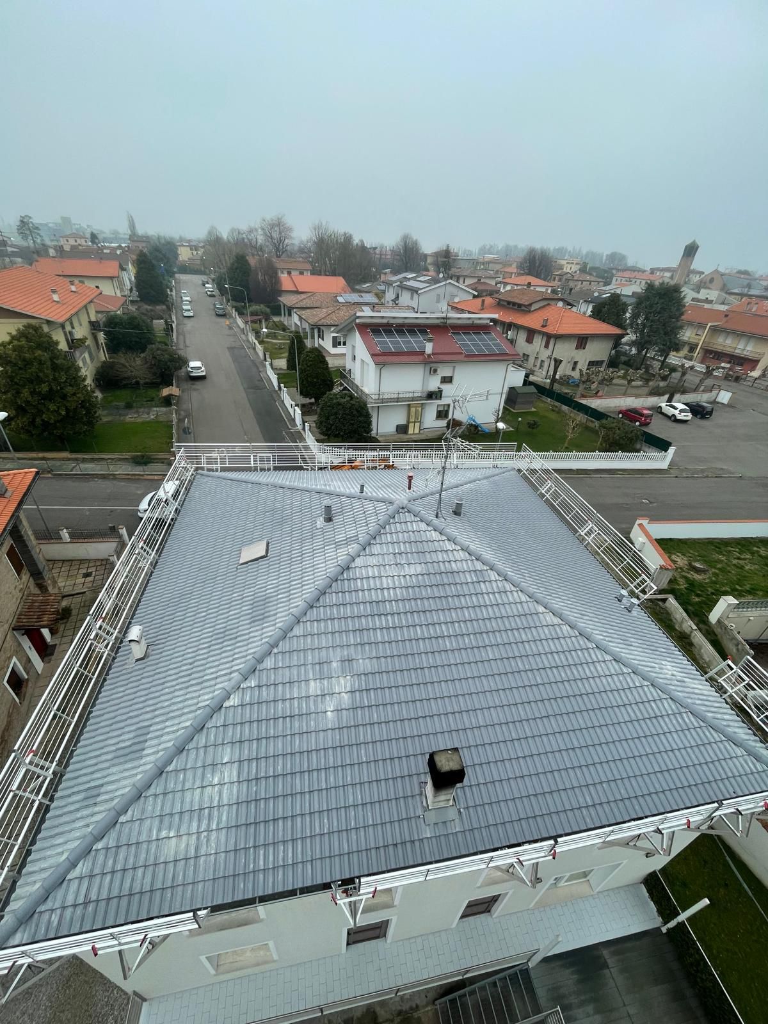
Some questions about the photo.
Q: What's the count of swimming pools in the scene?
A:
zero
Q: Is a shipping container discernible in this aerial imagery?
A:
No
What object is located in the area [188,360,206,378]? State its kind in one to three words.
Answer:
car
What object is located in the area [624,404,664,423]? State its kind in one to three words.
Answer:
car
